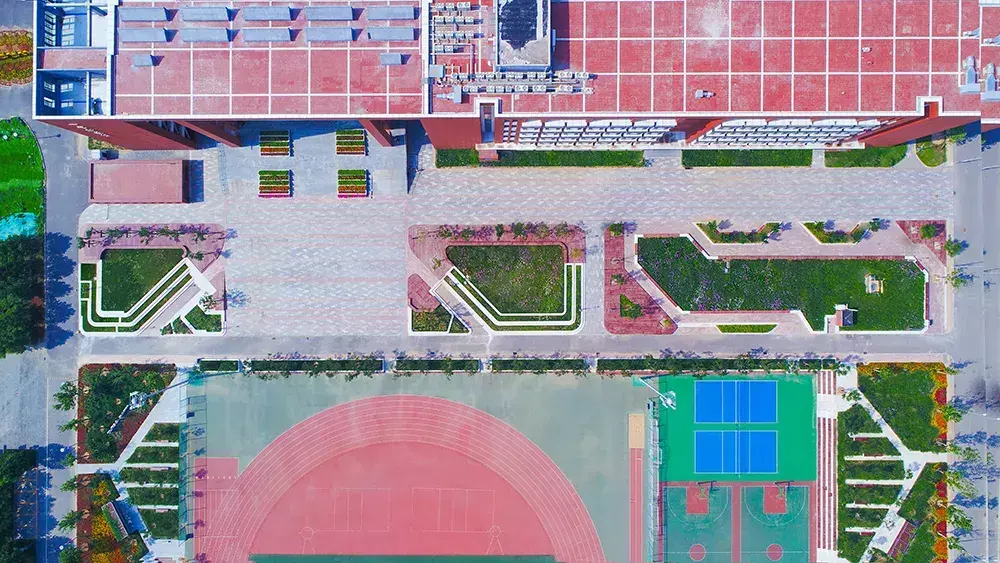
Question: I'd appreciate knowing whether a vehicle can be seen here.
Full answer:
No, no vehicle is visible in the view.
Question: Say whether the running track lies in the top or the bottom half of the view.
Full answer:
The bottom half of the photo is where the running track is.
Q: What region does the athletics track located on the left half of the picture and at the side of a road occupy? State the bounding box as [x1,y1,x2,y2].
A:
[194,394,604,563]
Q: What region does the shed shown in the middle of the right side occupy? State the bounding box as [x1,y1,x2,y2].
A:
[834,305,858,326]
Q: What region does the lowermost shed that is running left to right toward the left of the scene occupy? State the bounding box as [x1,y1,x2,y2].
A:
[89,160,189,205]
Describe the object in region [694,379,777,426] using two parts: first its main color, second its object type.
blue sports court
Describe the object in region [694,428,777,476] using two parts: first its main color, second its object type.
blue sports court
